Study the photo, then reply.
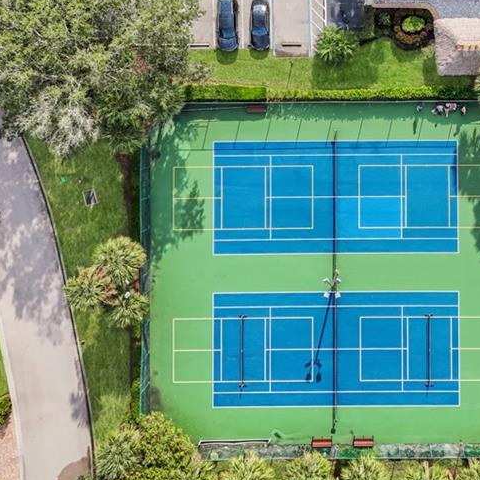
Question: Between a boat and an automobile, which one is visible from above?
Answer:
automobile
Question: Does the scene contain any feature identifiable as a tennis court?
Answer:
Yes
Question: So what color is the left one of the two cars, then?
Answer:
blue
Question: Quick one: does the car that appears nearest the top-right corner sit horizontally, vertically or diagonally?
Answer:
vertically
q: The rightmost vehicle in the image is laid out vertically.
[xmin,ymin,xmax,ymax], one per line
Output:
[249,1,272,51]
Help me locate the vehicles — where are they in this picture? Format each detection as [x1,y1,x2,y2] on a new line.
[215,0,239,52]
[249,1,272,51]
